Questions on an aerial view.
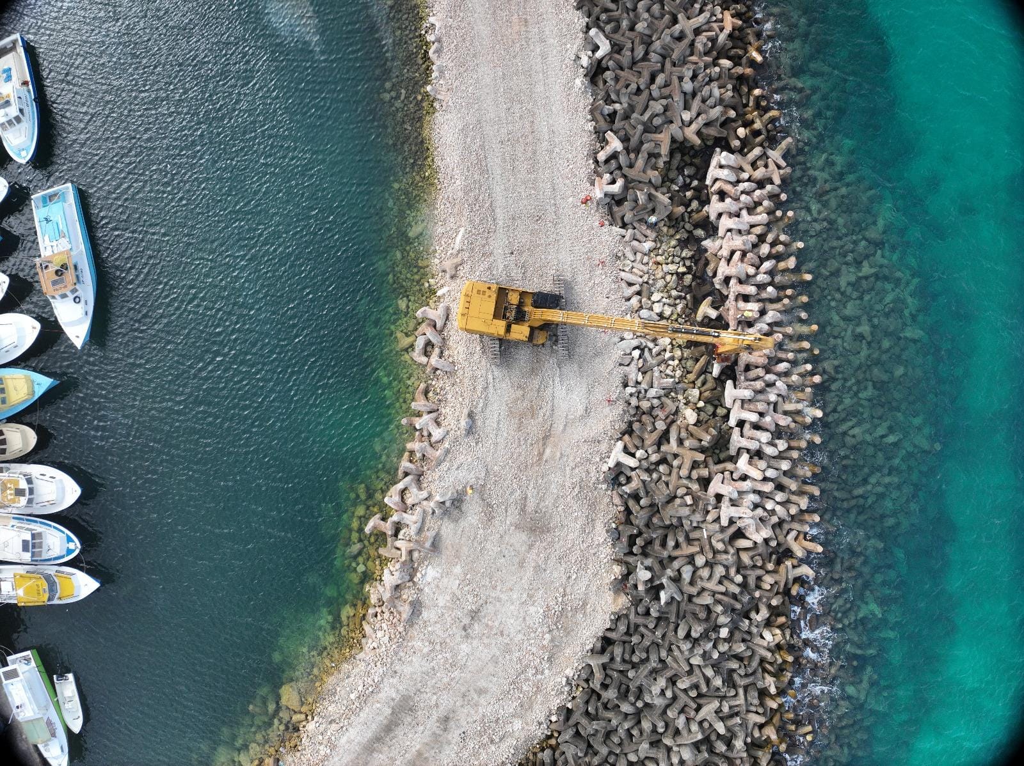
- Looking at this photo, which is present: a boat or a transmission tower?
boat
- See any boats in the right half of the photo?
No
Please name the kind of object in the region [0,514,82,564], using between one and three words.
boat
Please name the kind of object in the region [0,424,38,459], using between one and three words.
boat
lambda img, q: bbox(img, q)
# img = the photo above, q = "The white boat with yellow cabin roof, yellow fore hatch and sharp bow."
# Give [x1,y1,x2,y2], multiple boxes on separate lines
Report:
[0,563,100,606]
